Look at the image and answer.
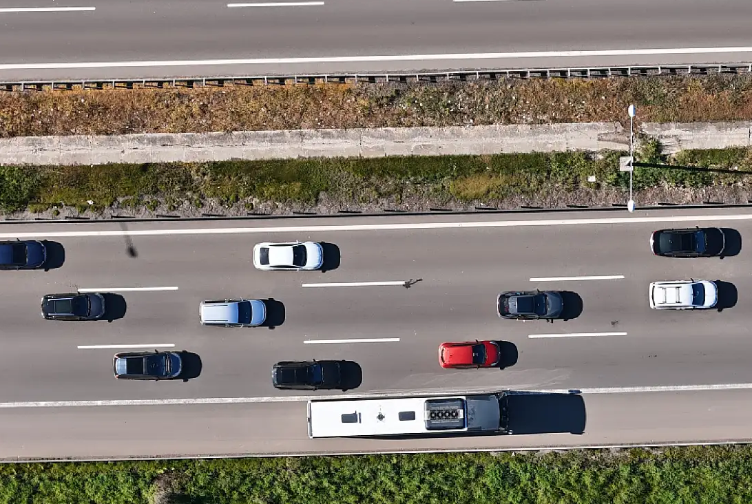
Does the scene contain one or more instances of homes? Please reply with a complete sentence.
No, this view has no home in it.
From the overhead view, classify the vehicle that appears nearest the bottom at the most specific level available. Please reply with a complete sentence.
From above, the vehicle that appears nearest the bottom can be identified as a bus.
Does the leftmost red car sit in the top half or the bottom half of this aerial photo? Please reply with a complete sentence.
The bottom half of the photo is where the leftmost red car is.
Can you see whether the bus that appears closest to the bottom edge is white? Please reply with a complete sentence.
Yes, the bus that appears closest to the bottom edge appears white.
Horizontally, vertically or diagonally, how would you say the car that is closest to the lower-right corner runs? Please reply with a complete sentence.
I'd say the car that is closest to the lower-right corner is aligned horizontally in the picture.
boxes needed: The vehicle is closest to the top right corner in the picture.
[650,224,725,259]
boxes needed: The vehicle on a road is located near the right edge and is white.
[649,277,718,312]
